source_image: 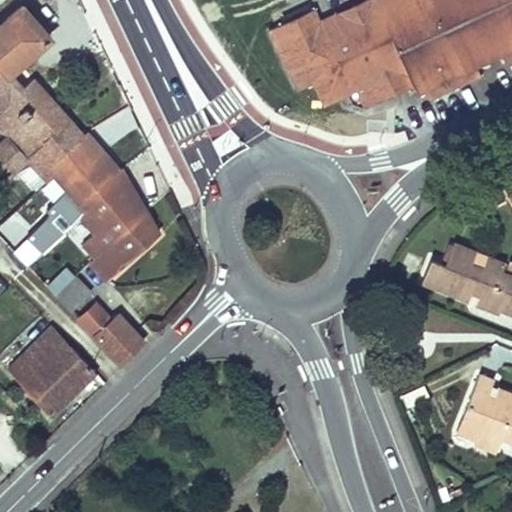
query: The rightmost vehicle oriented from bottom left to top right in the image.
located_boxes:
[216,306,241,324]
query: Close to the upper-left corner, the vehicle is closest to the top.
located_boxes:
[38,3,58,24]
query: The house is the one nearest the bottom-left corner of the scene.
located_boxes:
[9,323,104,416]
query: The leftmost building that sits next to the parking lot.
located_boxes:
[268,0,416,108]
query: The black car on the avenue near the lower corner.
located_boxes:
[34,460,54,478]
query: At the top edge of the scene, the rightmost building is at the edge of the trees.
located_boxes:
[376,0,512,98]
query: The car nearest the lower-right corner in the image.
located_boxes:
[384,448,399,470]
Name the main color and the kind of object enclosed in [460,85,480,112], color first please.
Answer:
white vehicle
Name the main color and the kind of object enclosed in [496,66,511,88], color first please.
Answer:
white car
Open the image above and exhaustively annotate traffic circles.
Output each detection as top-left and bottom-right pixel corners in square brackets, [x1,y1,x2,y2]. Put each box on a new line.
[201,132,424,384]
